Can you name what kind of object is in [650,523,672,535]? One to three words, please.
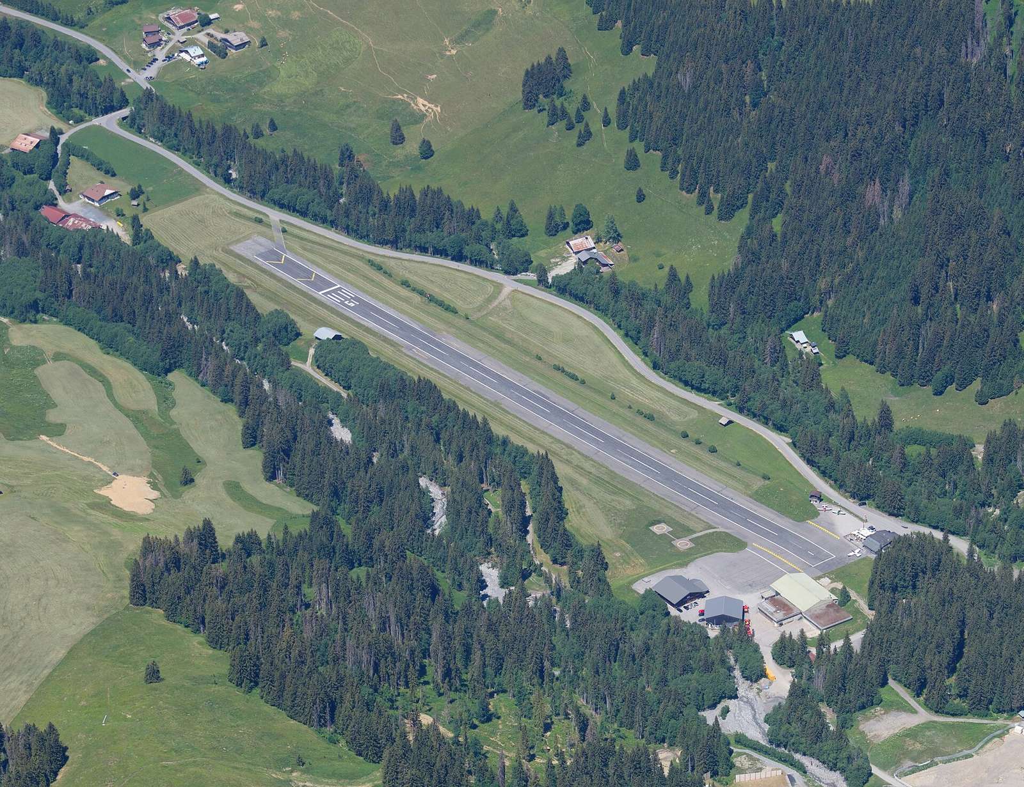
helipad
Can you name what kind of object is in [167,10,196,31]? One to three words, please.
barn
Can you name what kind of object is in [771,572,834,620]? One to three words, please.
hangar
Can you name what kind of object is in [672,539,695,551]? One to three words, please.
helipad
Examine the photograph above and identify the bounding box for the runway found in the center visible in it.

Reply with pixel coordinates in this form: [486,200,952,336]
[255,248,834,566]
